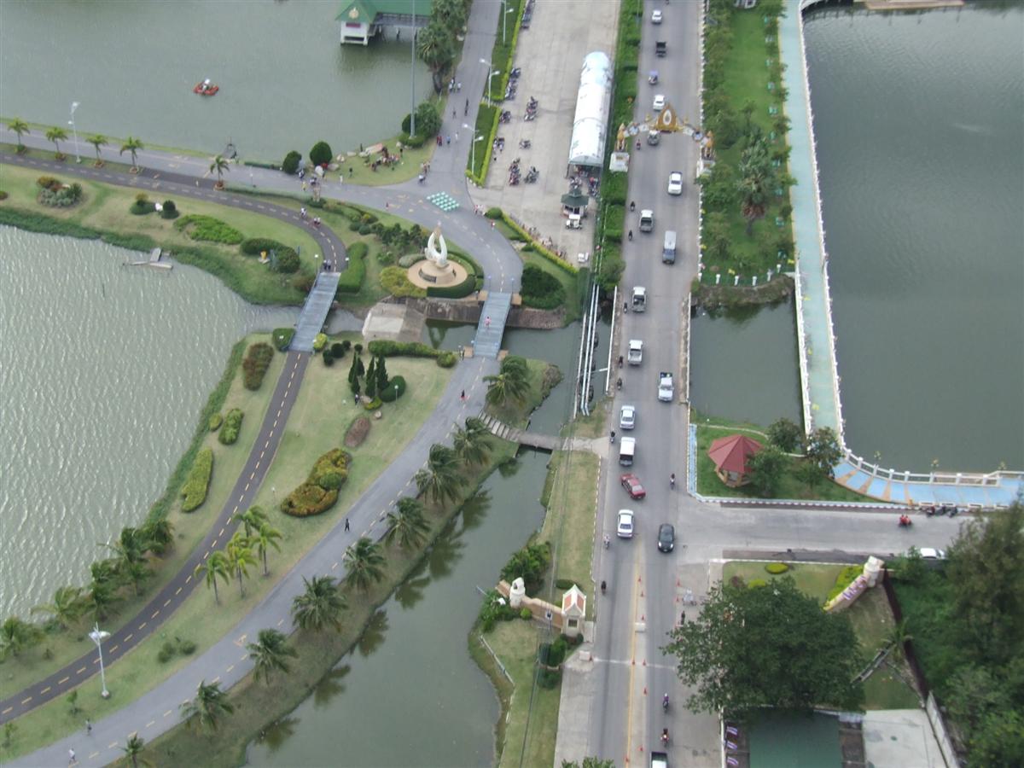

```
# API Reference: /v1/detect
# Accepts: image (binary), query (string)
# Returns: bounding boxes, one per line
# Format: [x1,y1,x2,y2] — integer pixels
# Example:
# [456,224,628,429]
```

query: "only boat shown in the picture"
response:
[193,78,218,95]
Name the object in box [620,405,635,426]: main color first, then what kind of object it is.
white car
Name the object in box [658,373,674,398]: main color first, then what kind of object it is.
white vehicle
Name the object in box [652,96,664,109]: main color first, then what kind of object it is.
white vehicle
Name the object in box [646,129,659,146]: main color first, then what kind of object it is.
gray vehicle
